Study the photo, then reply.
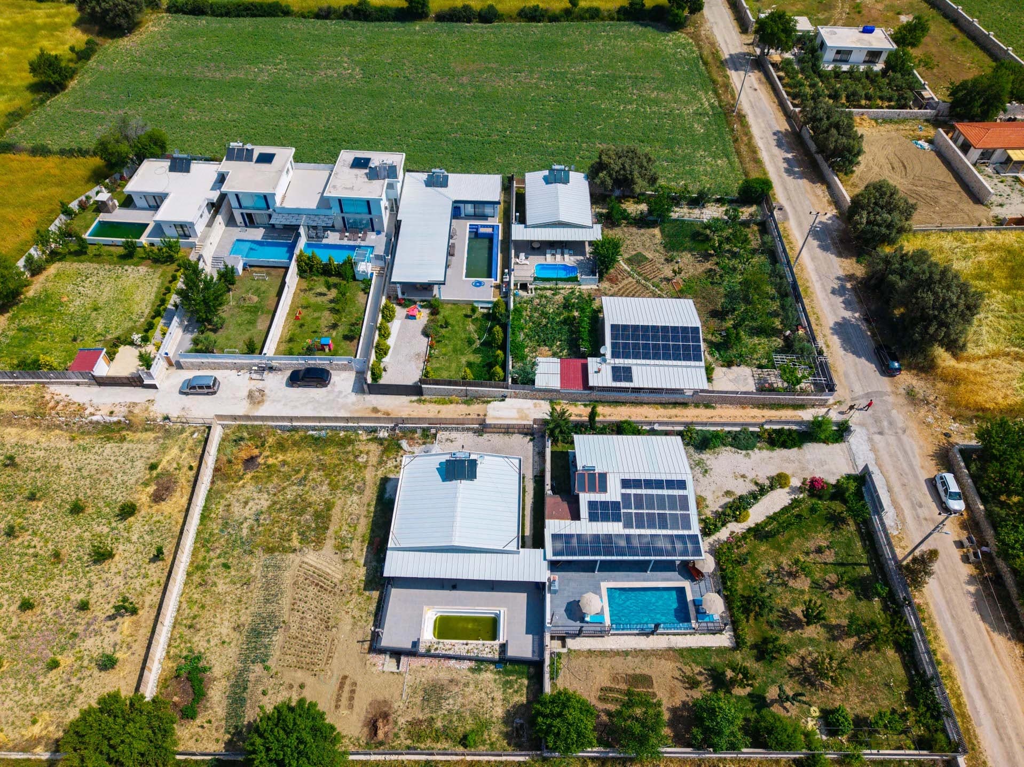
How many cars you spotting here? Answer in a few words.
4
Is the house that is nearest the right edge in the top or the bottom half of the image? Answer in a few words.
top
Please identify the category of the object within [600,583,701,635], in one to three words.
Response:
swimming pool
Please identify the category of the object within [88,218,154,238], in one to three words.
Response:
swimming pool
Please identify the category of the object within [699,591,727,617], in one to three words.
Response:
umbrella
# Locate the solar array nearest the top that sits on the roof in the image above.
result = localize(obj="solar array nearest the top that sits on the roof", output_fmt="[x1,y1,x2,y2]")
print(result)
[612,325,705,358]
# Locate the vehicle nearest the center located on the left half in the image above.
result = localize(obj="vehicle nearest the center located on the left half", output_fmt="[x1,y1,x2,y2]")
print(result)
[288,368,333,389]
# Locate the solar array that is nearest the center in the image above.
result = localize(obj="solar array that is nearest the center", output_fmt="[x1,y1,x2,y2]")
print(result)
[615,365,637,381]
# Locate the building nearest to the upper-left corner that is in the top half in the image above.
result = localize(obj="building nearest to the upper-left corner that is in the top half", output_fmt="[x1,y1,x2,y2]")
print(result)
[89,188,116,211]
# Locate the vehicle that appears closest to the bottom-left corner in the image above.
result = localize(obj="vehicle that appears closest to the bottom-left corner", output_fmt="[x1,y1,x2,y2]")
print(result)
[178,375,223,397]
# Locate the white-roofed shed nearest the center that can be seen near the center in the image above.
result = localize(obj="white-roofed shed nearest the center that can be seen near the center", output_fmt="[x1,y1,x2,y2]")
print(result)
[535,357,561,389]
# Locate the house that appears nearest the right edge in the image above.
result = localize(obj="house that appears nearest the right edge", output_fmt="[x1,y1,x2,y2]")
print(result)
[952,120,1024,163]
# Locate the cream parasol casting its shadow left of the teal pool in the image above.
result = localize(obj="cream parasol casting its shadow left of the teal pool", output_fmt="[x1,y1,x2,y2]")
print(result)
[577,592,604,618]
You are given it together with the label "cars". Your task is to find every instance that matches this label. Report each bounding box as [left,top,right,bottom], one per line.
[931,470,965,518]
[178,375,223,397]
[288,368,333,389]
[870,346,902,378]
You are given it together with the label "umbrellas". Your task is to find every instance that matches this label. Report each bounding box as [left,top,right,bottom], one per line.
[577,592,604,618]
[699,591,727,617]
[693,554,717,575]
